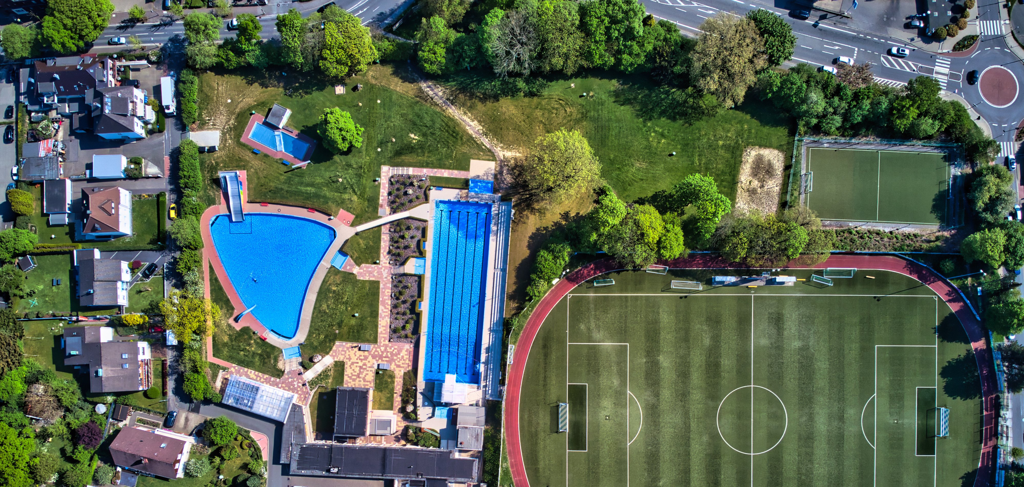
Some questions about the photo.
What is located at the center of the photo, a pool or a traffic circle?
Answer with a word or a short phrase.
pool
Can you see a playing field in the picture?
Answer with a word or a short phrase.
Yes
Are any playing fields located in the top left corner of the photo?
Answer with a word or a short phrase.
No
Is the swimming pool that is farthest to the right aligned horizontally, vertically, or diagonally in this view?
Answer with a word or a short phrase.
vertically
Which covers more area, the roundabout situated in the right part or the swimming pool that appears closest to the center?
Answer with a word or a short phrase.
the swimming pool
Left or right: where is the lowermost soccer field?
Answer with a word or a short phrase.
right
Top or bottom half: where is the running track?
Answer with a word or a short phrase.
bottom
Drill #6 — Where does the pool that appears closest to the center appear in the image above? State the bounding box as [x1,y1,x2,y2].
[421,198,495,386]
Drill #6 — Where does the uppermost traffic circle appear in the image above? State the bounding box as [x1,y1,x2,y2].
[979,65,1019,107]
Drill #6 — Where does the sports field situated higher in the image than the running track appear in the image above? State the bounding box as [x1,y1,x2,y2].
[805,145,952,227]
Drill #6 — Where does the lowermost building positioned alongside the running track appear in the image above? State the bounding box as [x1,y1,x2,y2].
[290,441,478,487]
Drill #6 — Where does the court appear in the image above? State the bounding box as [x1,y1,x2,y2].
[733,145,787,215]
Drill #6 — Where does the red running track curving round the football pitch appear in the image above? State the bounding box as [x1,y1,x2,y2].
[504,254,1000,487]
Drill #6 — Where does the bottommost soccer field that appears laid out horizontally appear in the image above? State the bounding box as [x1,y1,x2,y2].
[519,269,983,487]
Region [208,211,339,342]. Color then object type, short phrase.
blue swimming pool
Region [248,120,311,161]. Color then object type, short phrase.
blue swimming pool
